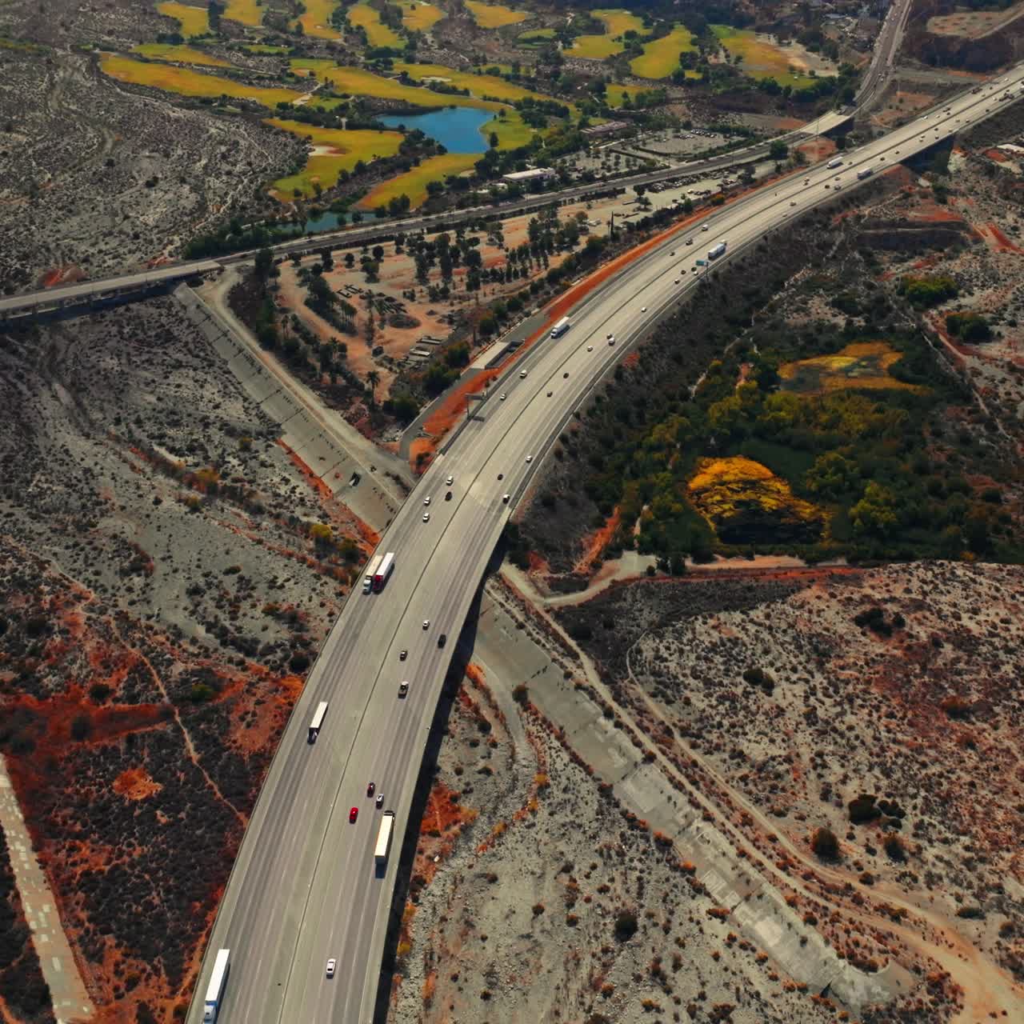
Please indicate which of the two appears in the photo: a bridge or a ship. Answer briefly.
bridge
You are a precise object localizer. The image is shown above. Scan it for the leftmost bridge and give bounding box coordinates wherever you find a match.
[0,257,219,326]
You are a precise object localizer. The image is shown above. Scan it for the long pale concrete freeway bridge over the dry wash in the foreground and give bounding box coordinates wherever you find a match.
[184,502,508,1024]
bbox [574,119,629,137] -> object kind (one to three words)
building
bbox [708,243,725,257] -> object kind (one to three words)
vehicle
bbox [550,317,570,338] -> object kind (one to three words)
vehicle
